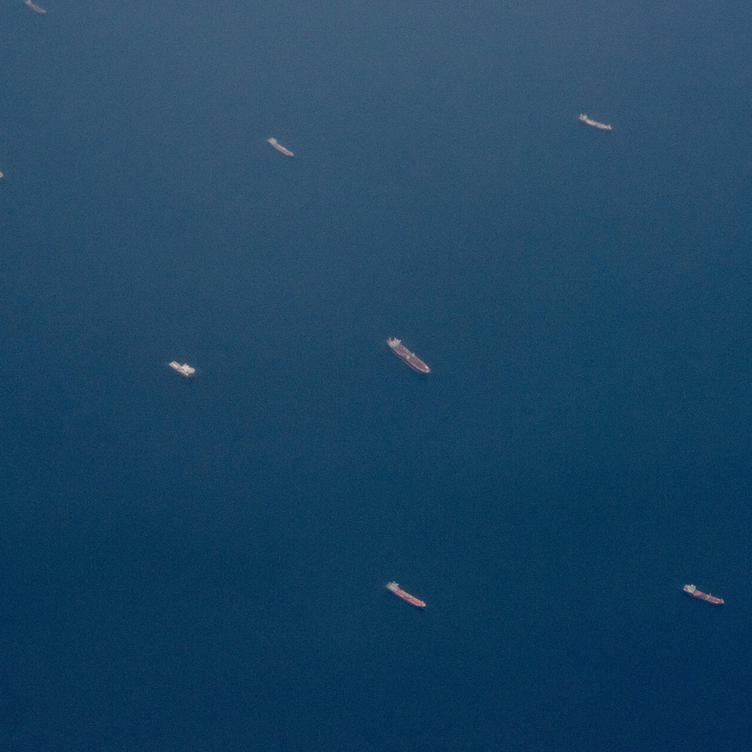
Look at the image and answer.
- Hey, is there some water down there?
Yes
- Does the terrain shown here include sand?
No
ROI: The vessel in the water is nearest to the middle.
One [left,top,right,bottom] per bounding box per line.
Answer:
[386,339,431,373]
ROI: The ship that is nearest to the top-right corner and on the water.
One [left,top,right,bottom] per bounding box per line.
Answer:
[579,116,612,131]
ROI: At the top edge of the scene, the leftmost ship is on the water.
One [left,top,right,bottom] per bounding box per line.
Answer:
[23,0,46,14]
